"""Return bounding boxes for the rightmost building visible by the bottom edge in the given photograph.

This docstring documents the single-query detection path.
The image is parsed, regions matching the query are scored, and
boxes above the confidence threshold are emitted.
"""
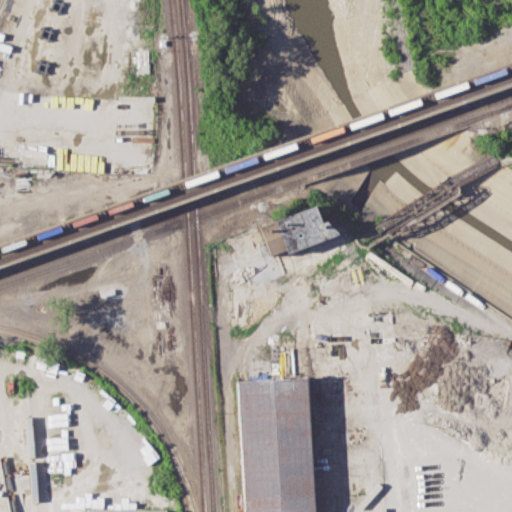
[236,378,315,512]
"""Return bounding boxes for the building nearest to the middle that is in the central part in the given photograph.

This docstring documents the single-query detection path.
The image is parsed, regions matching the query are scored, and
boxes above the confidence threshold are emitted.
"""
[260,206,340,256]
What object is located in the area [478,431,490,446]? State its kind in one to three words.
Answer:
vehicle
